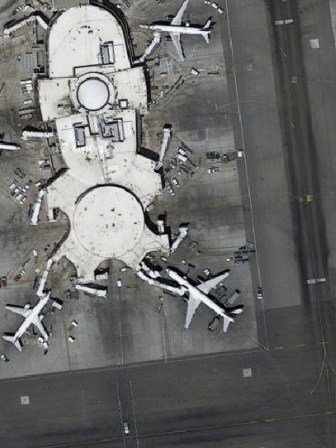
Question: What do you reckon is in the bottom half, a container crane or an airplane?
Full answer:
Visible in the bottom half is an airplane.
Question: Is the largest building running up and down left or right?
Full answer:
The largest building running up and down is on the left side of the image.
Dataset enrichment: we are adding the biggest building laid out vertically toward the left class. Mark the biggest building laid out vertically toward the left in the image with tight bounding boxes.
[35,4,170,279]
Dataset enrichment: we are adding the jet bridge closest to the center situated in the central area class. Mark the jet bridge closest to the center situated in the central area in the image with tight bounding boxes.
[170,223,186,254]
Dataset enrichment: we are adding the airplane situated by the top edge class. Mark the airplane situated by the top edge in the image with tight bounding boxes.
[150,0,215,61]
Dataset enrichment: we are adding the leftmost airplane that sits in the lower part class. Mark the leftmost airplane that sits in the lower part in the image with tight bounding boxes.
[5,292,50,349]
